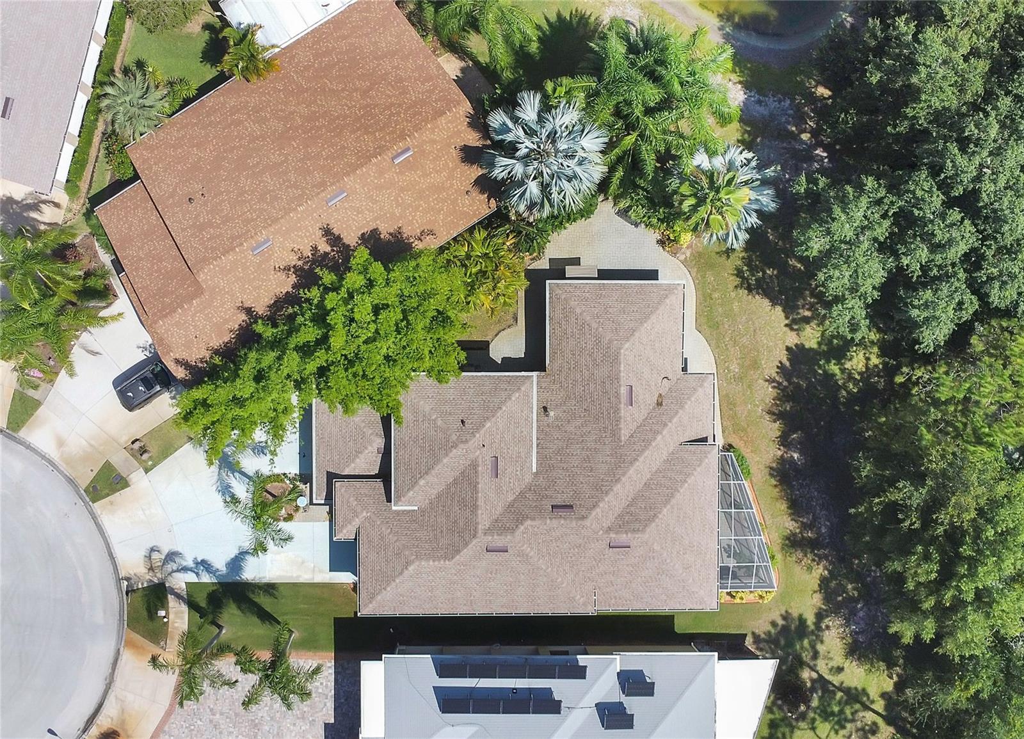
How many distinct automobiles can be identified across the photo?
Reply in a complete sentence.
Just 1 automobile appears in this view.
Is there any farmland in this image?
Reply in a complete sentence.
No, farmland can't be seen anywhere here.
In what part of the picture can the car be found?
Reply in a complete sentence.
The car sits in the left section of the image.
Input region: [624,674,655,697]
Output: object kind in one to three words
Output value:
solar panel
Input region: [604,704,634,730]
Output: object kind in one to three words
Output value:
solar panel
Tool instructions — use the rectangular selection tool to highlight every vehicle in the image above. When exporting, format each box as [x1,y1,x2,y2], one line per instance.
[117,358,182,412]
